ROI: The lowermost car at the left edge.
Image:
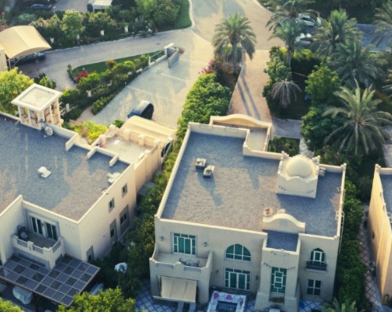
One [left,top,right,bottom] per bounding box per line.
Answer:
[16,49,53,67]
